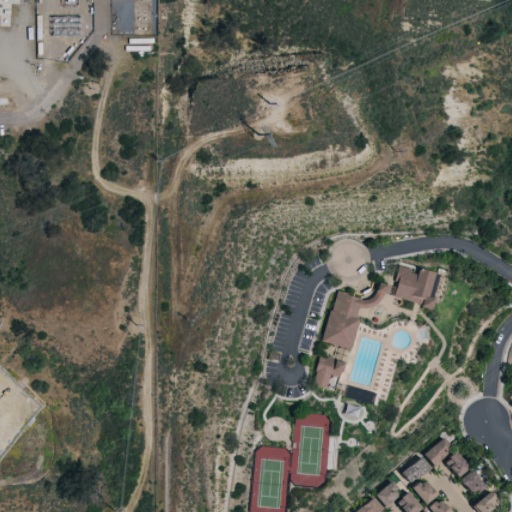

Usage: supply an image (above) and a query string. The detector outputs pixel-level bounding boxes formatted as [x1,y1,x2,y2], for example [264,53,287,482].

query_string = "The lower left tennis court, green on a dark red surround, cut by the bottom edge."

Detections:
[250,446,292,512]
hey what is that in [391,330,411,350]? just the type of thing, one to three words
swimming pool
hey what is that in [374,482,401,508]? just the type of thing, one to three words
house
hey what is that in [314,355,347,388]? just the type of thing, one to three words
building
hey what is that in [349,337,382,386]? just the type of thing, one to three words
swimming pool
